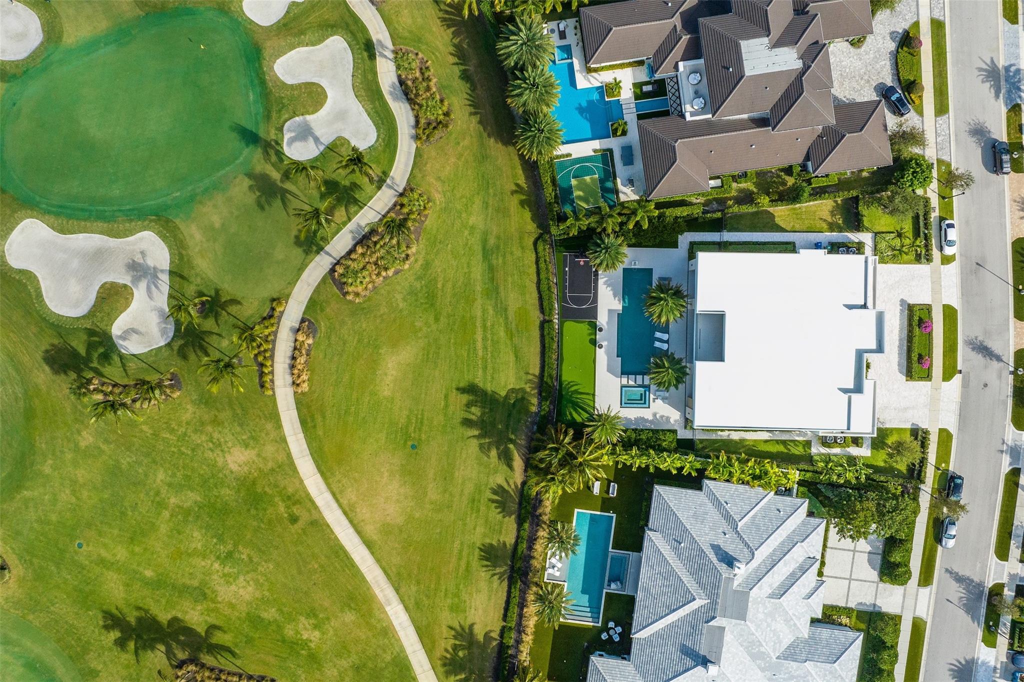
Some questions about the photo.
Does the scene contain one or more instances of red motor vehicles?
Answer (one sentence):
No, the frame has no red motor vehicle in it.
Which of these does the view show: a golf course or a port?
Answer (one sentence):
This image shows a golf course.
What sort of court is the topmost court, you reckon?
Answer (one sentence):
From above, the topmost court can be identified as a basketball court.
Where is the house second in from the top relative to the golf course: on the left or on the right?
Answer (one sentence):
To the right of the golf course is where the house second in from the top appears.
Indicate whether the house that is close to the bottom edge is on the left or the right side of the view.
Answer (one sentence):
The house that is close to the bottom edge appears in the right half of the scene.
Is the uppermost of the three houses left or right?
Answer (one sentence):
The uppermost of the three houses sits on the right side.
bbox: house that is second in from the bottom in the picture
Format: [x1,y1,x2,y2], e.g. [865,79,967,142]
[685,249,887,437]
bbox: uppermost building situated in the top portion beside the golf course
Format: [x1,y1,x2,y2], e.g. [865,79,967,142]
[579,0,894,200]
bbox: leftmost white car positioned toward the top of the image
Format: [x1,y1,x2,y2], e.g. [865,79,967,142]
[939,220,955,254]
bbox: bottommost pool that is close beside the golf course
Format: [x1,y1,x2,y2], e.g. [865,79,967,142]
[545,509,616,625]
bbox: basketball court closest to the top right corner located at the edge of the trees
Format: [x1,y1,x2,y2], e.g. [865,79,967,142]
[555,151,620,216]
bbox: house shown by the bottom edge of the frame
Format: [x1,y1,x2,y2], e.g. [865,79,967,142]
[586,478,864,682]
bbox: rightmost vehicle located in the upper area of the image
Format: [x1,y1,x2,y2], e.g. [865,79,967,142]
[992,139,1011,174]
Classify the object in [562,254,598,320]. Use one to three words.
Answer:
basketball court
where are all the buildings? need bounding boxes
[586,478,864,682]
[685,249,887,437]
[579,0,894,200]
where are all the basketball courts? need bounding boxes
[555,151,620,216]
[562,254,598,320]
